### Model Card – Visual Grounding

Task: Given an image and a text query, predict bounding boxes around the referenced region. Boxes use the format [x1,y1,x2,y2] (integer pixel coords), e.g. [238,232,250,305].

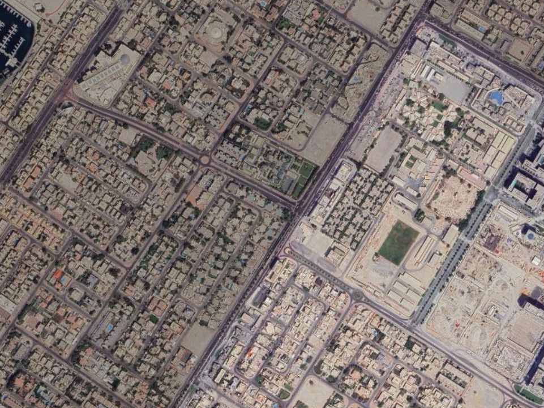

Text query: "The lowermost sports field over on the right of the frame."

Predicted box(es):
[378,220,420,266]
